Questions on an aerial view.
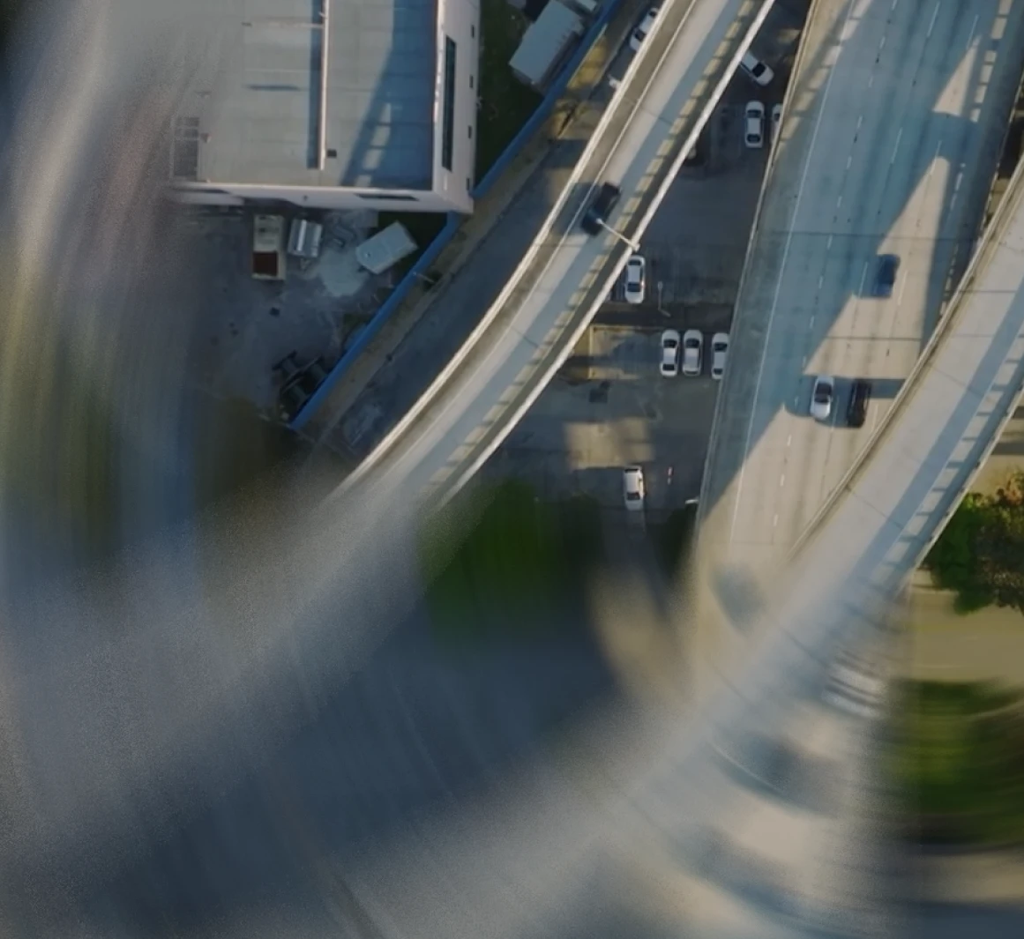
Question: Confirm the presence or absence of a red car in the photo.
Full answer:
No, I can see no red car in this picture.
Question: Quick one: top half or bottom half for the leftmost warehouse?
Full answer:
It is in the top half that the leftmost warehouse appears.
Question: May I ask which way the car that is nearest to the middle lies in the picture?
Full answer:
I'd say the car that is nearest to the middle is aligned vertically in the picture.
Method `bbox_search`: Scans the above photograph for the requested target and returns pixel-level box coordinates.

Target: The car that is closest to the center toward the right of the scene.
[623,465,644,510]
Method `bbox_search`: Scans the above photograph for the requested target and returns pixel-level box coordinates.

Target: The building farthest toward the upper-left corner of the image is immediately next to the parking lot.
[109,0,477,212]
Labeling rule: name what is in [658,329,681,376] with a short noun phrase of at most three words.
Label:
car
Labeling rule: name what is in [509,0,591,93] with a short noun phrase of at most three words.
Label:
shed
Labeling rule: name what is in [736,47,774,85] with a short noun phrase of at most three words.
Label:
car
